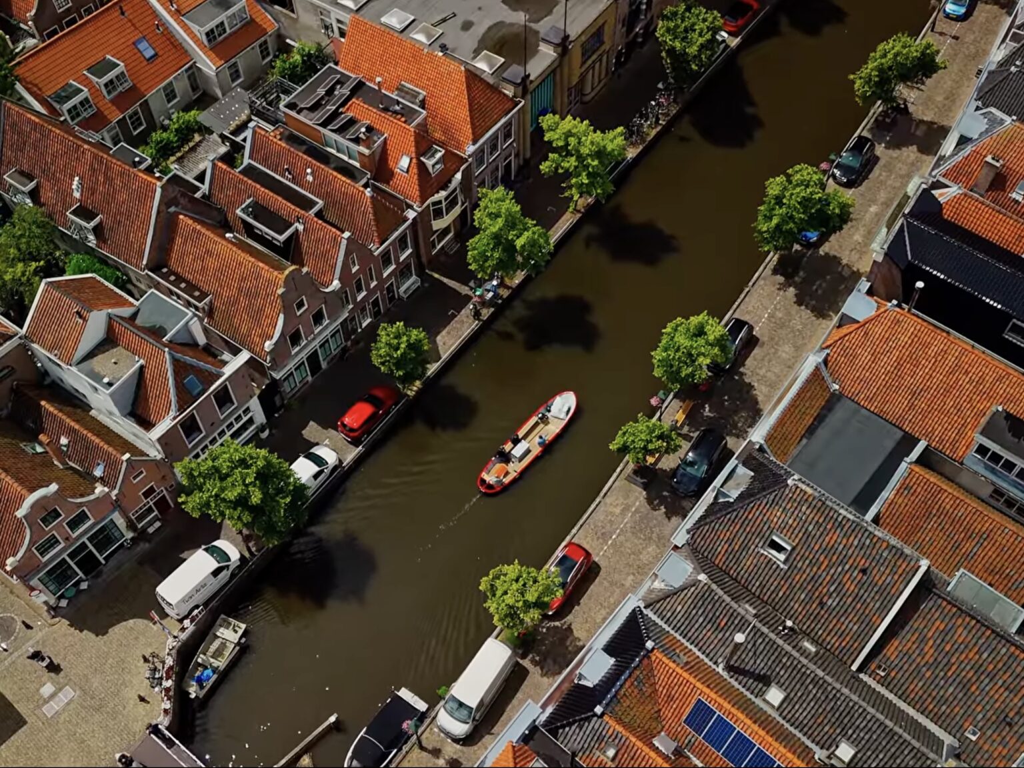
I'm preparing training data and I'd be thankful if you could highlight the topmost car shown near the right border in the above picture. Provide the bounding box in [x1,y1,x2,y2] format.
[943,0,975,25]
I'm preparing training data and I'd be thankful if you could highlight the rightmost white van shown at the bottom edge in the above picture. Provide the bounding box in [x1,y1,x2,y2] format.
[431,627,524,745]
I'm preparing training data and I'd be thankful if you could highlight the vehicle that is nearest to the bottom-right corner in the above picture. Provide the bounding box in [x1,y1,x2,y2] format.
[670,424,730,505]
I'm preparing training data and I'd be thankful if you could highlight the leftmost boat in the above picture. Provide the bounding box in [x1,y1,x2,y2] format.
[183,614,248,701]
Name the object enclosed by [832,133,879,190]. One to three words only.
car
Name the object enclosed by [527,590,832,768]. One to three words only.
house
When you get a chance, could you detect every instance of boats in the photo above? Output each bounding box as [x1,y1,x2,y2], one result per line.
[477,388,579,496]
[183,614,248,701]
[344,682,436,768]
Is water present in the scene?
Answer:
Yes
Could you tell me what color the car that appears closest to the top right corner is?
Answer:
blue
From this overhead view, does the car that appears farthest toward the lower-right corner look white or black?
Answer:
black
